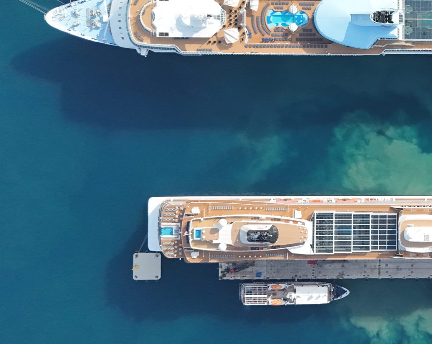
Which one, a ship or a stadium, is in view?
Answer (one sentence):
The one in the frame is a ship.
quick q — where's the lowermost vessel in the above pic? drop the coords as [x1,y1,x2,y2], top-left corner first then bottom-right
[239,282,350,307]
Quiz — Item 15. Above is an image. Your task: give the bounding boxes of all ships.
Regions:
[149,191,432,263]
[42,0,432,56]
[239,282,350,307]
